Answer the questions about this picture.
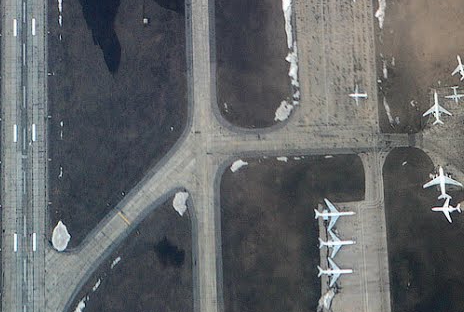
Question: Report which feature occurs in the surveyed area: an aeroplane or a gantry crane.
aeroplane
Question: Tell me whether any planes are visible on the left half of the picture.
No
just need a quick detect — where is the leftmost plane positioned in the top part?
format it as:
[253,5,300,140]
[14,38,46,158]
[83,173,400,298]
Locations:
[349,84,367,106]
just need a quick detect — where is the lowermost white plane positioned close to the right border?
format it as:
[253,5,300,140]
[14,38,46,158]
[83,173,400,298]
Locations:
[432,198,463,221]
